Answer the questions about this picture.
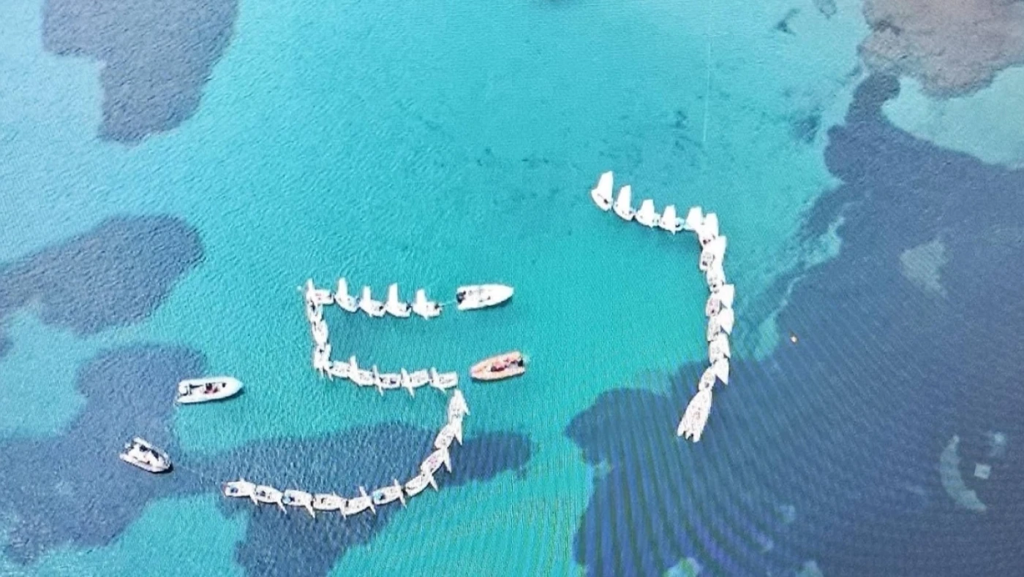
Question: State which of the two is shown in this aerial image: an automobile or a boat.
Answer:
boat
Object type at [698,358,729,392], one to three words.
boat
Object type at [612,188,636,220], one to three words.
boat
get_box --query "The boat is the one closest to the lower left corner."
[120,438,169,470]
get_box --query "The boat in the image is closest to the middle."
[456,284,514,309]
